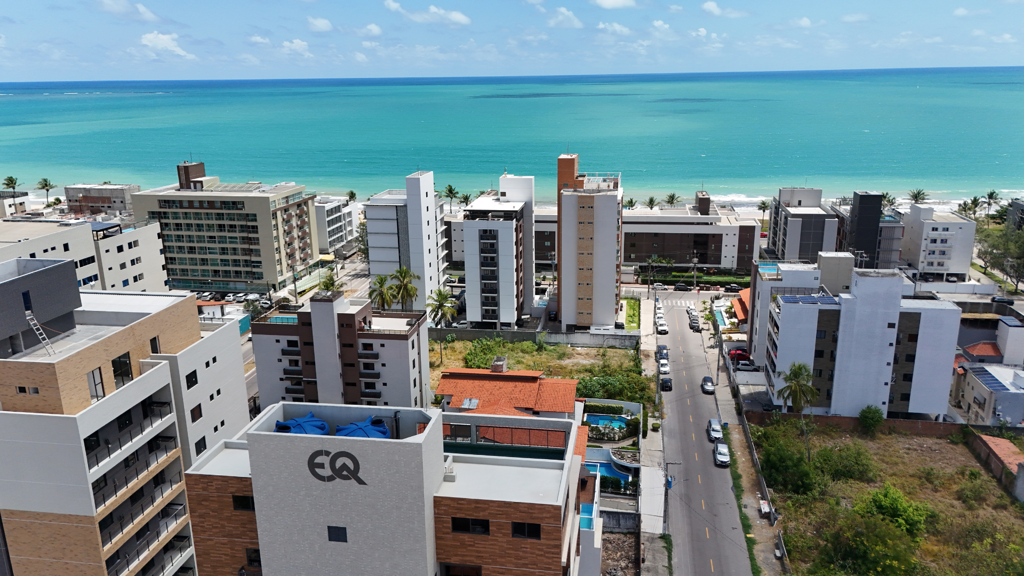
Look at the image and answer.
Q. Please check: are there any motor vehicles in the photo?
Yes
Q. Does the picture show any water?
Yes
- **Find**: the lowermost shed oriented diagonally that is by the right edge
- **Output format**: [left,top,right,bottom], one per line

[984,432,1024,477]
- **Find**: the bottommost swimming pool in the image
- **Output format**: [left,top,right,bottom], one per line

[583,501,596,532]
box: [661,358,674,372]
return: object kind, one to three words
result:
vehicle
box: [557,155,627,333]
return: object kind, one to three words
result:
building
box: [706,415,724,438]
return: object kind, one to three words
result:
car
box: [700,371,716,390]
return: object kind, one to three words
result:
car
